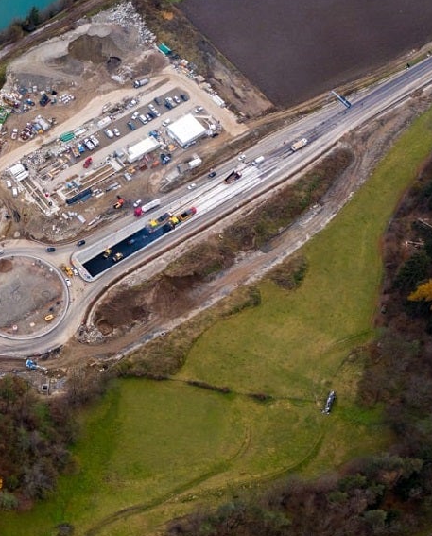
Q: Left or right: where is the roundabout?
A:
left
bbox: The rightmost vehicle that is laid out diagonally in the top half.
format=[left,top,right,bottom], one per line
[292,136,309,149]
